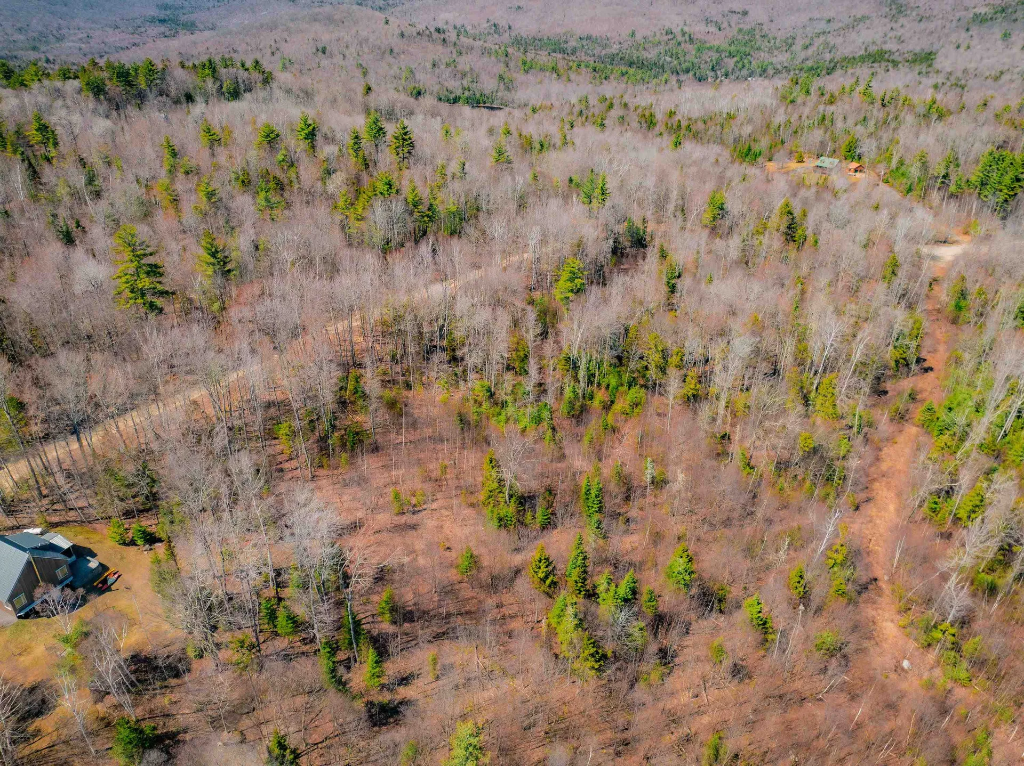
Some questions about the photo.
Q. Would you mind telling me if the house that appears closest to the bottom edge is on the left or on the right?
left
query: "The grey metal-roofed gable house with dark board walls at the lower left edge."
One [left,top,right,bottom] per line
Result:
[0,525,84,628]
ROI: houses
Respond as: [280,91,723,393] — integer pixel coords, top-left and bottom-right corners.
[814,157,842,174]
[0,525,84,628]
